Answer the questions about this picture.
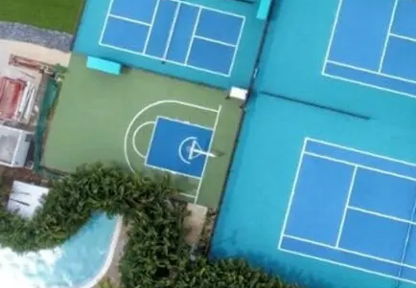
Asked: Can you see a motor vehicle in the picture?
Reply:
No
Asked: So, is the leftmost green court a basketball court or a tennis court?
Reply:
basketball court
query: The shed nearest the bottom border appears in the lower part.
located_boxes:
[6,180,53,217]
